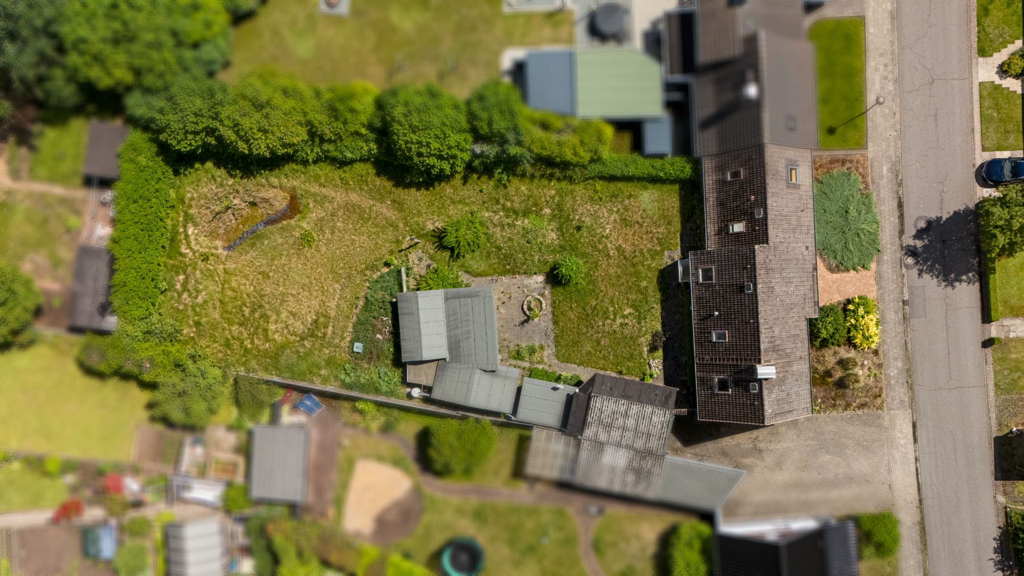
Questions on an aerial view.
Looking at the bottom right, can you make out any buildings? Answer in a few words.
Yes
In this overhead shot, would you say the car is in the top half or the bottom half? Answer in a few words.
top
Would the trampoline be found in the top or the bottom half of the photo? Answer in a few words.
bottom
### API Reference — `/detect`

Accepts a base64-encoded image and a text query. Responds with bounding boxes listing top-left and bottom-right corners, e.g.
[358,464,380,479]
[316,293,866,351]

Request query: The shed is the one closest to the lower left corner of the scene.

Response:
[83,521,126,560]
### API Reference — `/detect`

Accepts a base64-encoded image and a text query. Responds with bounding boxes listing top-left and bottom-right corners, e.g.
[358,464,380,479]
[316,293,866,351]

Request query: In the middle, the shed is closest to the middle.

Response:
[446,286,502,368]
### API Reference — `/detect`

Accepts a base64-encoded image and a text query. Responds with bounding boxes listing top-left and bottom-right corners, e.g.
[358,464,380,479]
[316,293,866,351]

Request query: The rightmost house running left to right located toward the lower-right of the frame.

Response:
[714,510,857,576]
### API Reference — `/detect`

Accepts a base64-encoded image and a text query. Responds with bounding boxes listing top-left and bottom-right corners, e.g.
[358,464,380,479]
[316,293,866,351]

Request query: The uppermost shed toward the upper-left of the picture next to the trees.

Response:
[85,122,146,179]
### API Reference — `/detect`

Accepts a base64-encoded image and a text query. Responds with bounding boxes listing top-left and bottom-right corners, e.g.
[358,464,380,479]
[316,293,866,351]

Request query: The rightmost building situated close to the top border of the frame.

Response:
[664,0,824,159]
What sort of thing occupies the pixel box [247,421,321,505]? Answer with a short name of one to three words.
shed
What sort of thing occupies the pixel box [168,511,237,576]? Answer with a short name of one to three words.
shed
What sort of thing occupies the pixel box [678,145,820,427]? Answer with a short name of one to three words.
house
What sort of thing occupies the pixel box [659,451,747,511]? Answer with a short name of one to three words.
building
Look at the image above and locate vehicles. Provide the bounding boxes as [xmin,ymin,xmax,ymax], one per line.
[982,158,1024,184]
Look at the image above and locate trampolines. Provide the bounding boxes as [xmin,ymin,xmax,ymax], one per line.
[436,532,486,576]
